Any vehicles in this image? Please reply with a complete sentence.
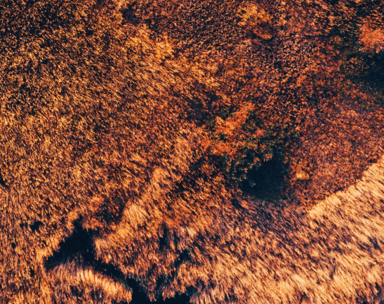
No, the photo shows no vehicle.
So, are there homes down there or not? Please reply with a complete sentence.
No, there's no home here.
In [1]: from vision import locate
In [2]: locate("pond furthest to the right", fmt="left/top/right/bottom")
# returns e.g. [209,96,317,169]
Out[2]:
[238,144,290,201]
